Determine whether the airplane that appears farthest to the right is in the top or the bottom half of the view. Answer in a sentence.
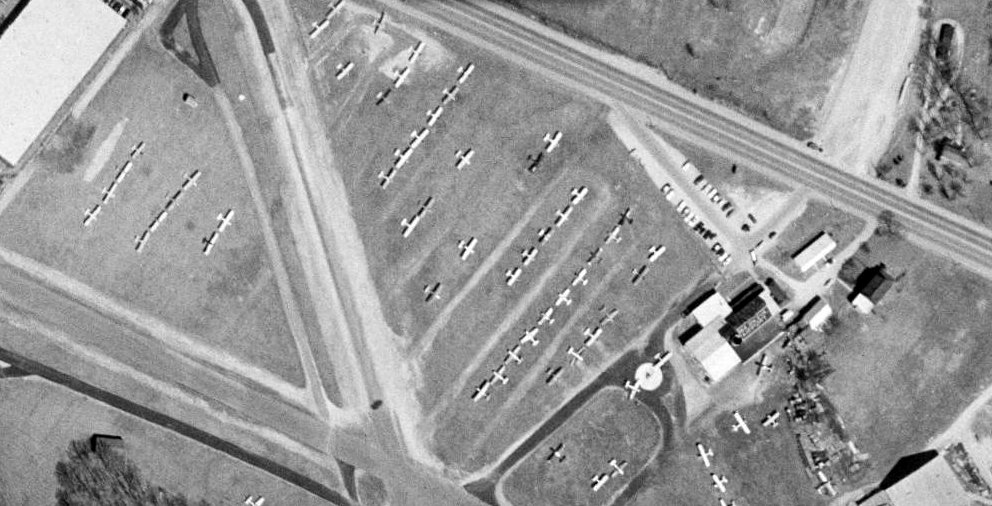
The airplane that appears farthest to the right is in the bottom half of the image.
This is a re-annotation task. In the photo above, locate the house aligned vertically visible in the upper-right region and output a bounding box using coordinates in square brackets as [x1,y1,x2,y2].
[938,25,953,58]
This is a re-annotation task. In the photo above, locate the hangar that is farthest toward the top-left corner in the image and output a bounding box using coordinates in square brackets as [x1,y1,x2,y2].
[0,0,126,166]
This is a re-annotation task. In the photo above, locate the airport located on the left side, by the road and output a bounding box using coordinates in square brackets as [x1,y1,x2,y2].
[0,0,677,506]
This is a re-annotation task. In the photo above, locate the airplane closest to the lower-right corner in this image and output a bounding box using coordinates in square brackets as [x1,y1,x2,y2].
[815,473,837,496]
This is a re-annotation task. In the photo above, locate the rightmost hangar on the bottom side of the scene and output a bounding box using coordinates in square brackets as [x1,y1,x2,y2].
[887,456,972,506]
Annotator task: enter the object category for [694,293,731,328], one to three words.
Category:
building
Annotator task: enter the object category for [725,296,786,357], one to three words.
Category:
hangar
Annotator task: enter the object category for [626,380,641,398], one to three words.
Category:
airplane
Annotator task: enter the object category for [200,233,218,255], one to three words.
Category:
airplane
